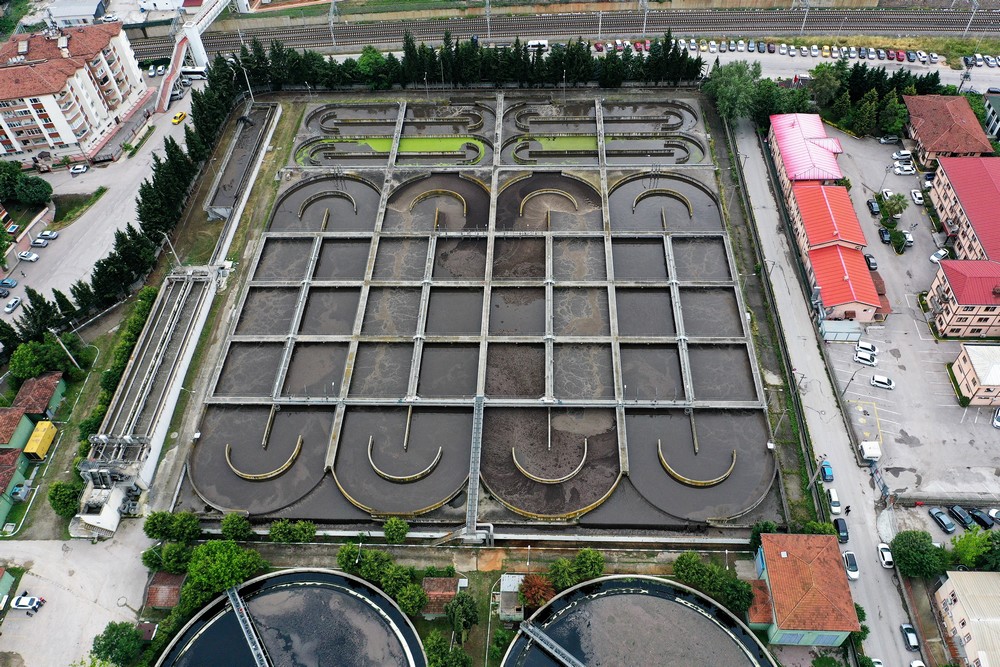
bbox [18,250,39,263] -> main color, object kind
white vehicle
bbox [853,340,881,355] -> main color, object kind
white car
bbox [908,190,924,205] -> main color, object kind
white car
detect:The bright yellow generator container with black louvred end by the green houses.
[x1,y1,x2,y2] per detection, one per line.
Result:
[21,420,60,462]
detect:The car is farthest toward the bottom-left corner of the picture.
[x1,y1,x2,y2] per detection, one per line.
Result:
[8,594,42,611]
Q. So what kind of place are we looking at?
industrial area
